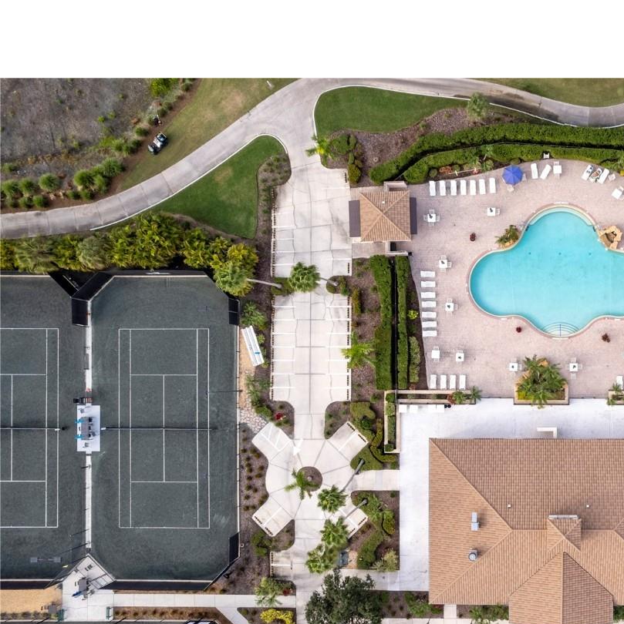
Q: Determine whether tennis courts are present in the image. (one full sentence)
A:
Yes, there's a tennis court down there.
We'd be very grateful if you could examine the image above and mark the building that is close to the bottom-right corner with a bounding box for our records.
[428,425,624,624]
